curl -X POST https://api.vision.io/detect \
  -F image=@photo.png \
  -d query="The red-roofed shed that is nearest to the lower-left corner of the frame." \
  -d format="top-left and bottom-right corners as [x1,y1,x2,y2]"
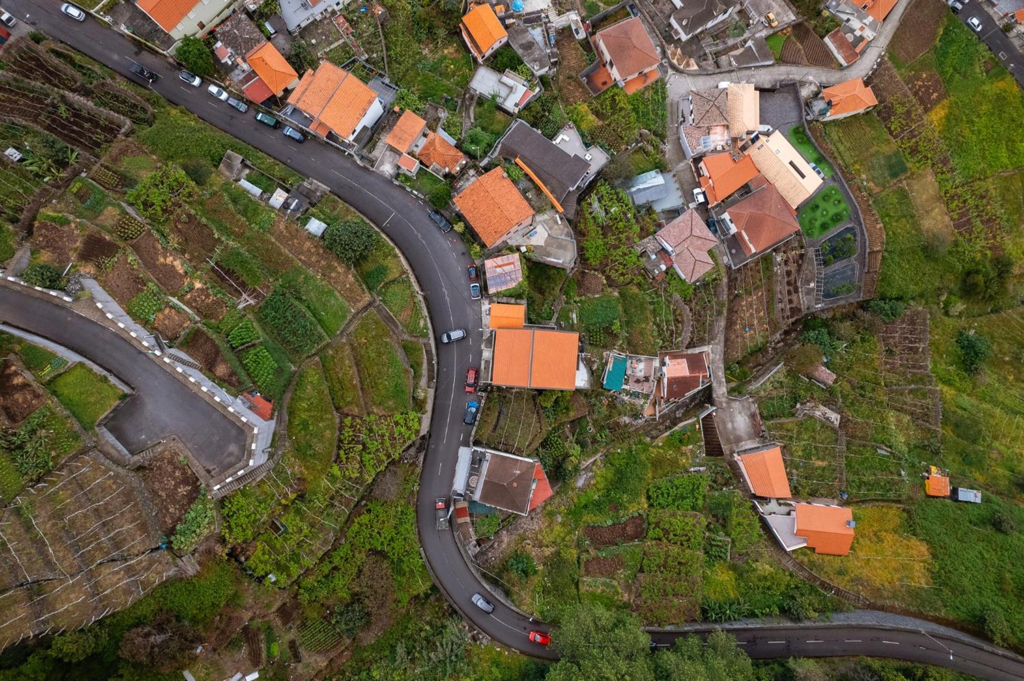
[241,393,275,420]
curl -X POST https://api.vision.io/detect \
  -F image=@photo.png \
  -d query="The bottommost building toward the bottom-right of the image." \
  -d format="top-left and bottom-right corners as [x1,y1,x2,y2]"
[786,500,855,556]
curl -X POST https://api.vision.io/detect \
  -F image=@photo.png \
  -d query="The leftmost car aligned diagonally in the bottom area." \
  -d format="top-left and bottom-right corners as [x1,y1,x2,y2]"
[470,595,494,616]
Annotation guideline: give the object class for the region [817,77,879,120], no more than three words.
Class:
house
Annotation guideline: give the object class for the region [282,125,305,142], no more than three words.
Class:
car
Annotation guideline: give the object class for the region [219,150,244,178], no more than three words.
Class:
shed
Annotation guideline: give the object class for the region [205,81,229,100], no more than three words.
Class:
car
